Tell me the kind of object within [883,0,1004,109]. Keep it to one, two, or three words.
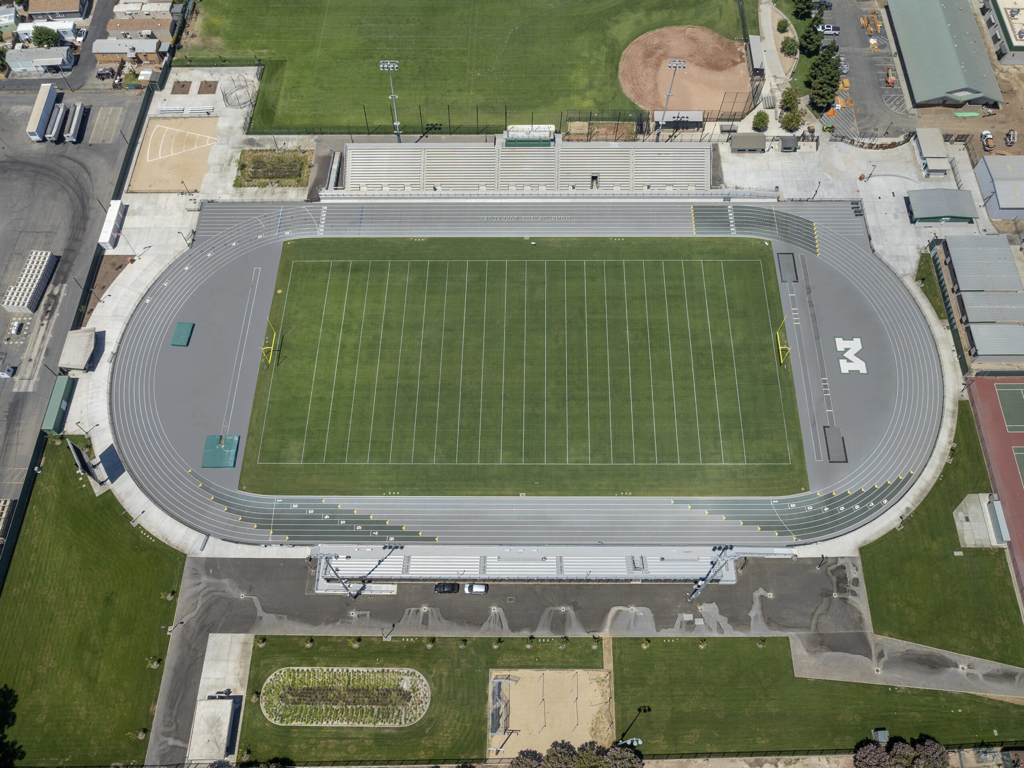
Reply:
building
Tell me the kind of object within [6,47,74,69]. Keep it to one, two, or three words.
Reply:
house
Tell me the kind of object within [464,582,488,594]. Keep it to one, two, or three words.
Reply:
vehicle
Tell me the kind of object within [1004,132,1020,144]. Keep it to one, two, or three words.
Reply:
vehicle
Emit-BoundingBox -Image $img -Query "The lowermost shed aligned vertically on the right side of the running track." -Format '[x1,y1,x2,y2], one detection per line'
[988,501,1011,544]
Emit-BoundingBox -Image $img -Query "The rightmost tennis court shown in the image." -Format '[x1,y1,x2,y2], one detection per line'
[969,376,1024,607]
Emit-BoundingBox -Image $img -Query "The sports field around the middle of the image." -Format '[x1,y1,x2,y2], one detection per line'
[237,237,810,496]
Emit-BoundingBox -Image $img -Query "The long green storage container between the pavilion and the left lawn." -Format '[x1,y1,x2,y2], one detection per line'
[41,375,76,435]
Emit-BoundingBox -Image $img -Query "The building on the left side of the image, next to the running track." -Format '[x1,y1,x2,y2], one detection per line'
[54,328,99,372]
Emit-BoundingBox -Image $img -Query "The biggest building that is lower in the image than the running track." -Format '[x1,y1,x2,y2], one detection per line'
[188,694,235,760]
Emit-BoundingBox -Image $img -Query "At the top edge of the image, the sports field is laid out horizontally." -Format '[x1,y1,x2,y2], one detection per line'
[170,0,760,136]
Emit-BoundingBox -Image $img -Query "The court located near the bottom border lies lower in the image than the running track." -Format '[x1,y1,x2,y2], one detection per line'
[487,669,616,764]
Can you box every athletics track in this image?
[109,200,944,546]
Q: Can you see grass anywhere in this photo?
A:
Yes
